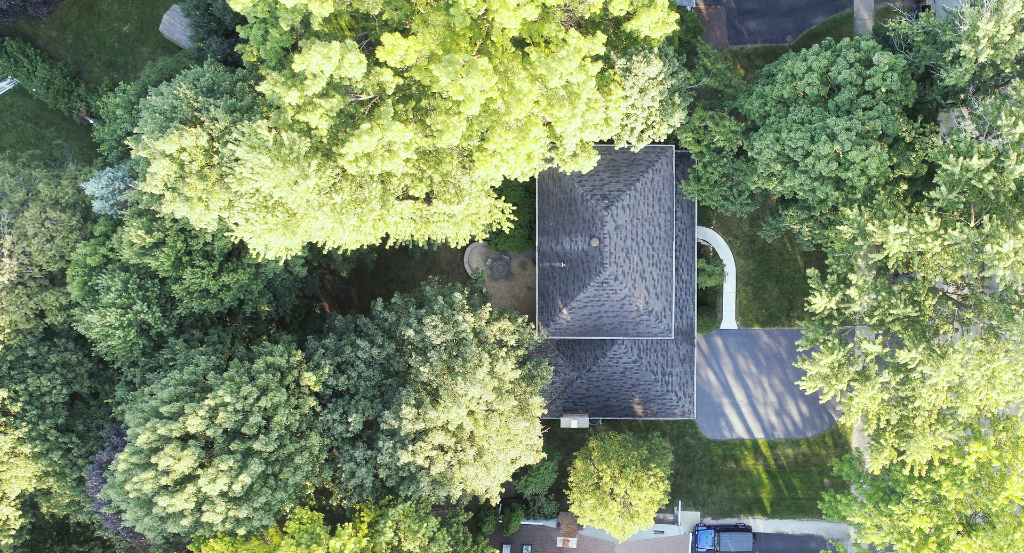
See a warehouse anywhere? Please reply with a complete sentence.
No, there's no warehouse here.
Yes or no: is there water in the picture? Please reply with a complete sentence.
No, there is no water in the image.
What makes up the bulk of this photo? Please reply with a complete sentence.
The bulk of the photo consists of trees.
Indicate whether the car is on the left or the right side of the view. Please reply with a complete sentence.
The car is on the right side of the image.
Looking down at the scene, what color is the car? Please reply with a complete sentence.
The car looks blue in the image.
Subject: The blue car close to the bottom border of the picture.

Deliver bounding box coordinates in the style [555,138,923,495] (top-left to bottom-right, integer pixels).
[689,522,754,553]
